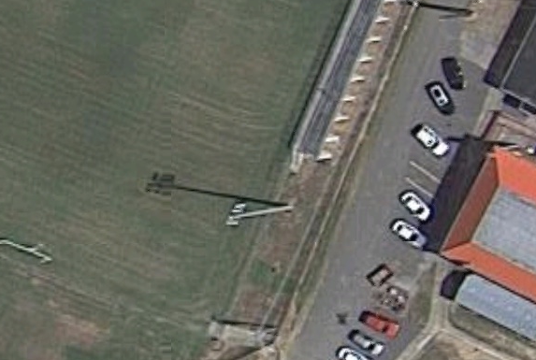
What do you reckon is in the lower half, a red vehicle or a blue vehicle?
red vehicle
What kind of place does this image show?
sports ground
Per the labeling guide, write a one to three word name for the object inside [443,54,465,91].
car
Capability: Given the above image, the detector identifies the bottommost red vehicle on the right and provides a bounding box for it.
[363,311,398,338]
